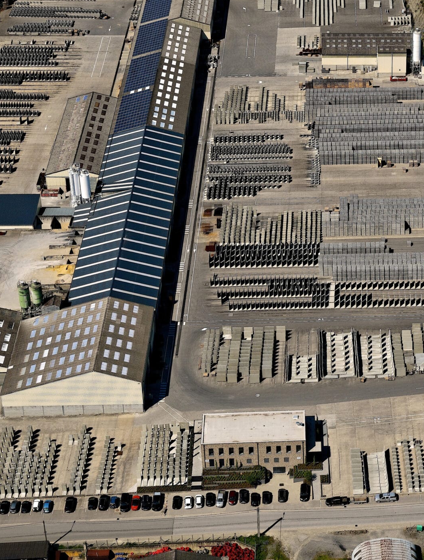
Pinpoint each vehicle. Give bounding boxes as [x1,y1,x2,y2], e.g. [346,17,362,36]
[250,494,259,508]
[172,497,182,511]
[30,500,41,514]
[119,493,130,513]
[263,492,271,506]
[278,488,287,505]
[205,494,215,509]
[20,501,30,515]
[130,498,140,513]
[299,483,309,504]
[86,497,96,511]
[8,499,20,516]
[193,496,203,510]
[151,492,162,513]
[97,495,109,512]
[227,493,237,508]
[41,500,51,515]
[239,489,248,506]
[216,493,226,510]
[325,496,349,507]
[108,497,118,511]
[0,502,10,516]
[142,495,152,512]
[374,492,397,504]
[183,497,192,511]
[64,495,75,515]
